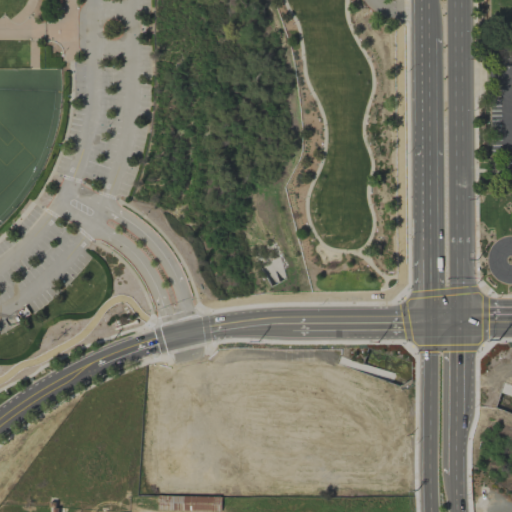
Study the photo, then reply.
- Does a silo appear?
No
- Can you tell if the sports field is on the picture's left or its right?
left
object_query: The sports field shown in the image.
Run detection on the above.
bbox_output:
[0,69,63,227]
